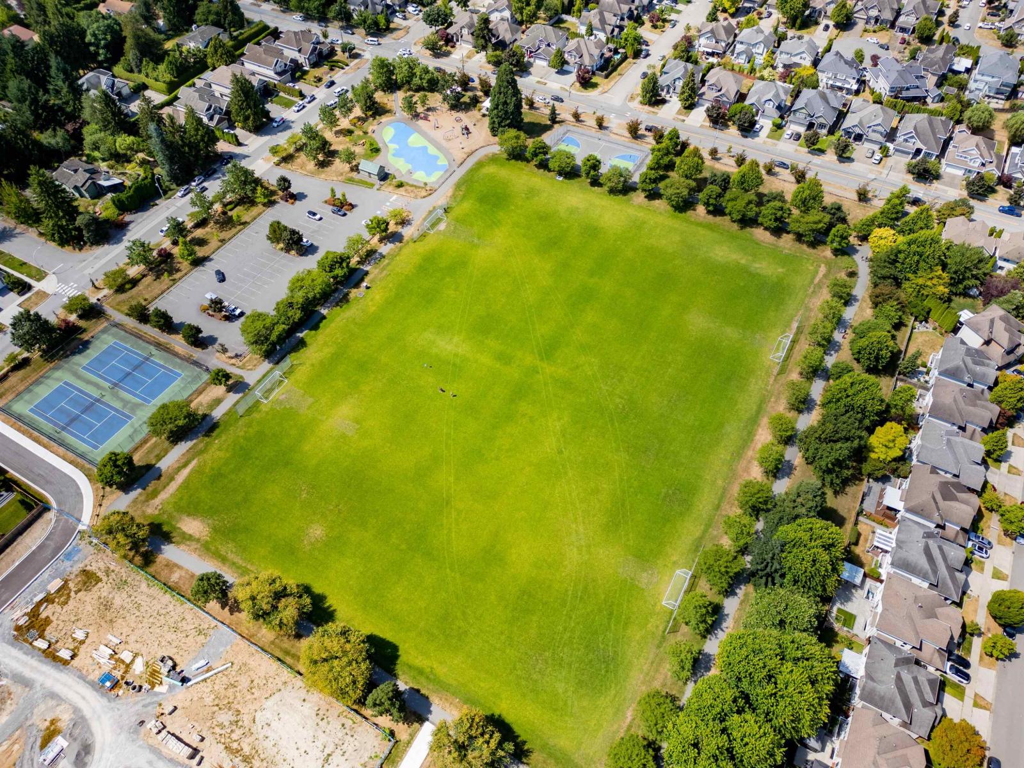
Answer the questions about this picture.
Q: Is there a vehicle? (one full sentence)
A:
Yes, the picture does show a vehicle.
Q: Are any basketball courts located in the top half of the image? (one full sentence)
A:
Yes, the scene does show a basketball court in the top half of the image.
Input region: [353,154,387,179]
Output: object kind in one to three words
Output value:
building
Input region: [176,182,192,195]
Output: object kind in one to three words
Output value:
vehicle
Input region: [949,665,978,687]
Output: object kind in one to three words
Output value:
car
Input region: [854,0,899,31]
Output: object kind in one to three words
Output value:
house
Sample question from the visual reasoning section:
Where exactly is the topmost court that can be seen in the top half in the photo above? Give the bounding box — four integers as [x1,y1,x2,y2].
[546,122,653,176]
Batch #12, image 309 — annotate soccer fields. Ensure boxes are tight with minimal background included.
[115,145,854,768]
